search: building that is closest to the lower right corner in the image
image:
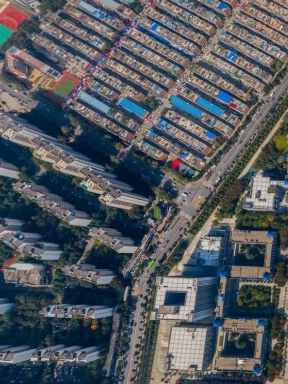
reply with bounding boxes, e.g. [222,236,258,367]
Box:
[213,317,268,375]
